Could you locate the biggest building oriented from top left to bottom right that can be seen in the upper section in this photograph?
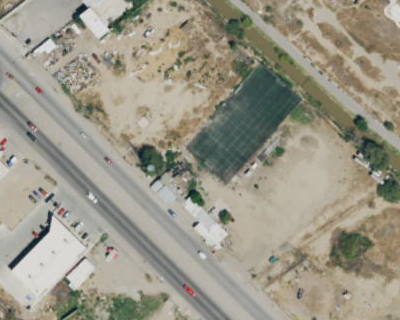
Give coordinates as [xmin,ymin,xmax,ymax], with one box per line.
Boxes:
[80,8,108,38]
